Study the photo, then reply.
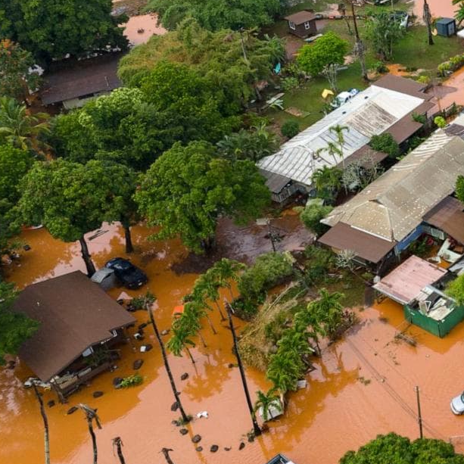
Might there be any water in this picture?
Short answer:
Yes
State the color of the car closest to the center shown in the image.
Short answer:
black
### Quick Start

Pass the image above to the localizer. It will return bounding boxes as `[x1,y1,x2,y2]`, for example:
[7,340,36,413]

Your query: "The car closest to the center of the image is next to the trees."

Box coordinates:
[112,256,149,286]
